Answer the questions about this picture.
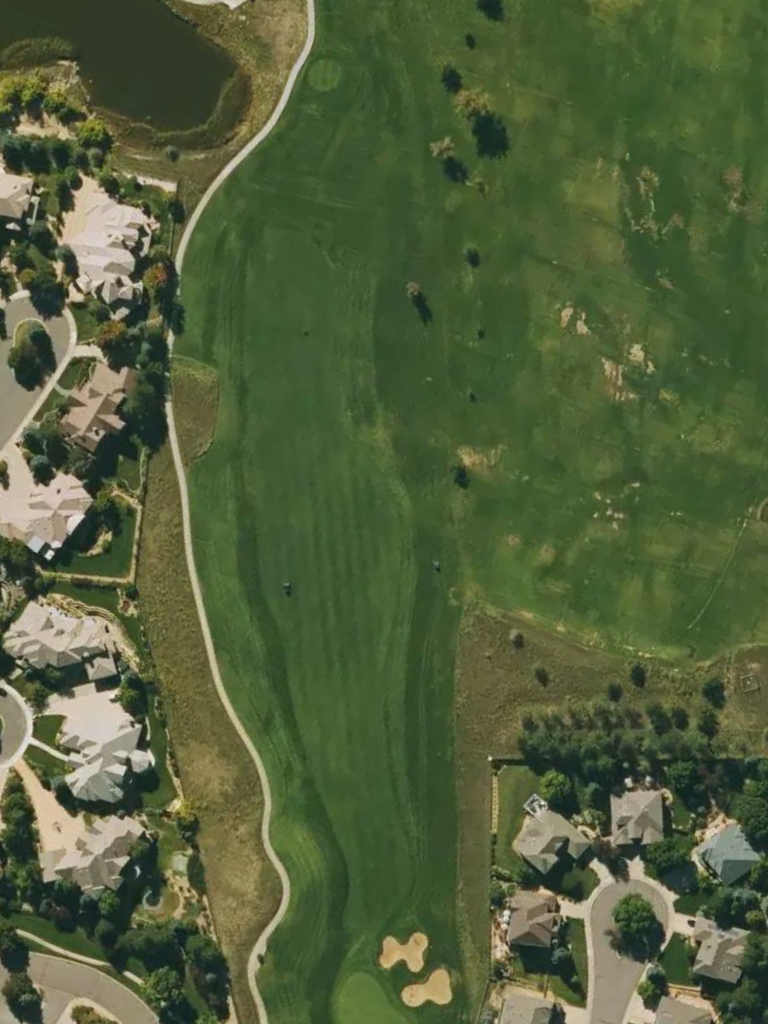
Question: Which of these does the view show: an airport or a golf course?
golf course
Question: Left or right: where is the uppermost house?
left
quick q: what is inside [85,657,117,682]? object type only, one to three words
house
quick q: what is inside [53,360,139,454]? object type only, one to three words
house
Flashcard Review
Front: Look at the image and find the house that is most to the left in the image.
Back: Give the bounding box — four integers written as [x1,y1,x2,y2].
[0,174,31,216]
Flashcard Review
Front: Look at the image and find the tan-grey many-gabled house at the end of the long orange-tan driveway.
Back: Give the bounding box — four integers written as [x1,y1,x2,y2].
[37,811,151,898]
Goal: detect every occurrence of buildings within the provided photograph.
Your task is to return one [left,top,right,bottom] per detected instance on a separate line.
[0,174,31,216]
[692,915,750,990]
[504,999,562,1024]
[0,465,94,546]
[517,807,598,876]
[72,198,148,322]
[0,602,107,675]
[610,792,665,846]
[698,824,763,886]
[37,811,151,898]
[61,709,154,810]
[507,892,565,951]
[53,360,139,454]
